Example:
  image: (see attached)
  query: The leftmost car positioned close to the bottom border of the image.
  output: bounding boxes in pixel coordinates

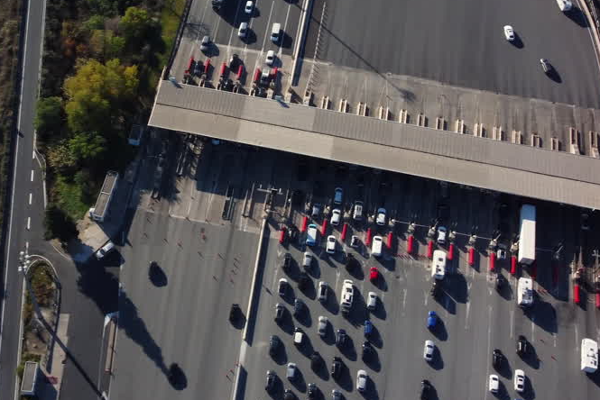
[168,356,183,383]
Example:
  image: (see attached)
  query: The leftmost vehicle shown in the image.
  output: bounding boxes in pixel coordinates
[95,241,115,260]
